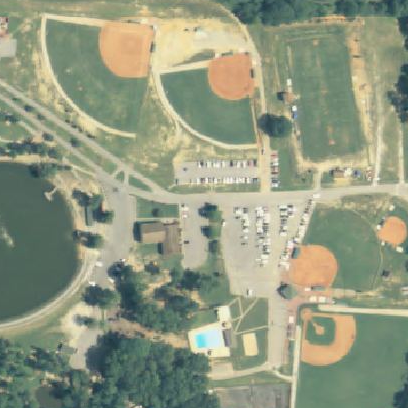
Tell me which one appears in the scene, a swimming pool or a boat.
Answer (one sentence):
Of the two, only a swimming pool appears.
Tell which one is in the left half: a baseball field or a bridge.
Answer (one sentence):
The feature located in the left half is a baseball field.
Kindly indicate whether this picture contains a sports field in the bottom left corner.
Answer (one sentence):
No, the scene shows no sports field in the bottom left corner.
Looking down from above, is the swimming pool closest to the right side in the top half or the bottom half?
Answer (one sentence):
The swimming pool closest to the right side sits in the bottom half of the picture.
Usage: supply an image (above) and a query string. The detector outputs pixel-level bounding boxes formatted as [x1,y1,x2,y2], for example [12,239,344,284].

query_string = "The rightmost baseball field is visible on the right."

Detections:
[375,205,408,251]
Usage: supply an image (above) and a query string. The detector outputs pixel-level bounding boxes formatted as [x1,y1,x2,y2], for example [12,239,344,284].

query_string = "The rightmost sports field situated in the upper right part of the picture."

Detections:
[286,32,364,163]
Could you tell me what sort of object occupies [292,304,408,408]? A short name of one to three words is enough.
baseball field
